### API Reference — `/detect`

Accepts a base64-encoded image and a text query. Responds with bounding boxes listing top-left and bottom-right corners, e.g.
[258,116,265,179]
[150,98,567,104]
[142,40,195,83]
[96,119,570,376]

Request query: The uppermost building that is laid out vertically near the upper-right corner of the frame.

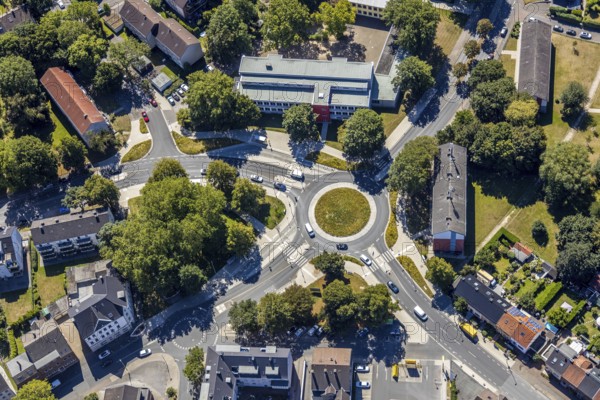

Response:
[510,23,549,120]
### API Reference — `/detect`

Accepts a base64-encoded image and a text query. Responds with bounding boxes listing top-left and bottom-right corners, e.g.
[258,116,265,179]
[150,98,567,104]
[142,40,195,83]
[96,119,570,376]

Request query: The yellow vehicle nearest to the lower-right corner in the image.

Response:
[458,317,479,339]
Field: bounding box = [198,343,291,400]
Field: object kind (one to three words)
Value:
building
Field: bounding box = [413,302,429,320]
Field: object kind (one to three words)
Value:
vehicle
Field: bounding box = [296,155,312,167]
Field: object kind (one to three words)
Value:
vehicle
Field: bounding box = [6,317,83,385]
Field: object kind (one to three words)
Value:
house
